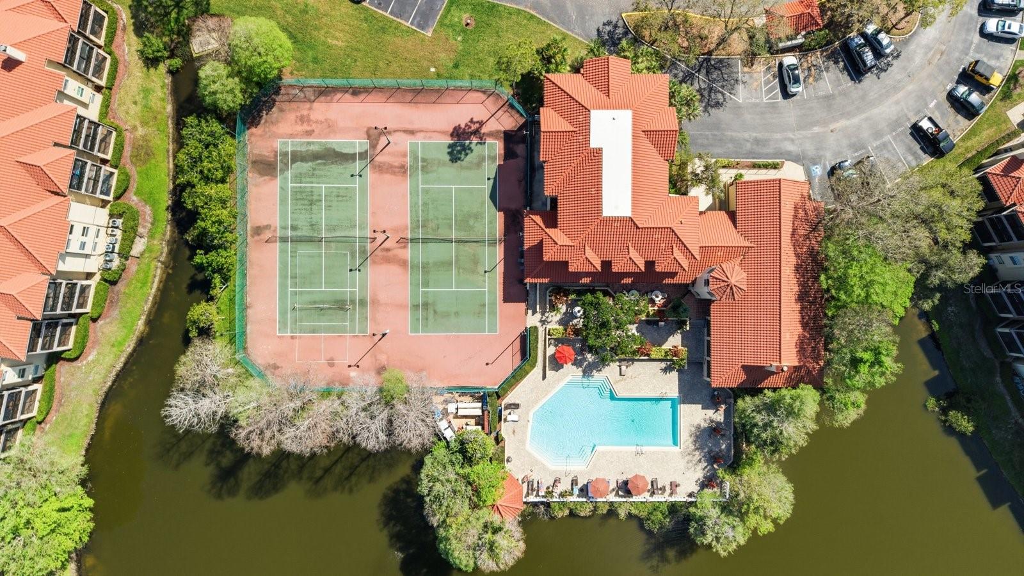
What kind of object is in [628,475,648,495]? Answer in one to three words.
umbrella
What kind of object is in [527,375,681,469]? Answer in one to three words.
swimming pool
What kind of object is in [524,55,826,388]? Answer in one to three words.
building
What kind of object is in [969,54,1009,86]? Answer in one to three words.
car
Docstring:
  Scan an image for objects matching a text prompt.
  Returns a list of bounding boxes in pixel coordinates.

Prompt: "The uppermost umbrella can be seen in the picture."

[555,345,575,364]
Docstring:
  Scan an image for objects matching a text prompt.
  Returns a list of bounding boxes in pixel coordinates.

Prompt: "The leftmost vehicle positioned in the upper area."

[781,54,807,95]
